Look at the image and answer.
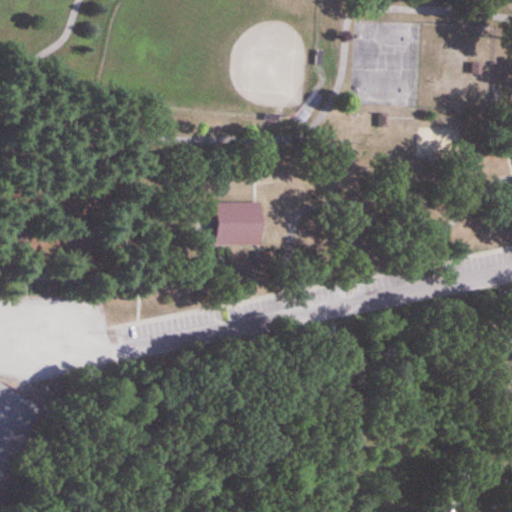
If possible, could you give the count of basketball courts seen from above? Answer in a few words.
1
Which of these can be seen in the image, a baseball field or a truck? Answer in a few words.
baseball field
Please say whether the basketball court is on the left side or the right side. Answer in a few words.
right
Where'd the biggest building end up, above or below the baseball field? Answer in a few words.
below it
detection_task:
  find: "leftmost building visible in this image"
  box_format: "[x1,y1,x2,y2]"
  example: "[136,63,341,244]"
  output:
[217,202,262,245]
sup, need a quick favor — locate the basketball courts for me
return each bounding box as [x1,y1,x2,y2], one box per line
[352,22,419,106]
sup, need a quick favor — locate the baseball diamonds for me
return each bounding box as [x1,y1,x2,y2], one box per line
[230,20,307,108]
